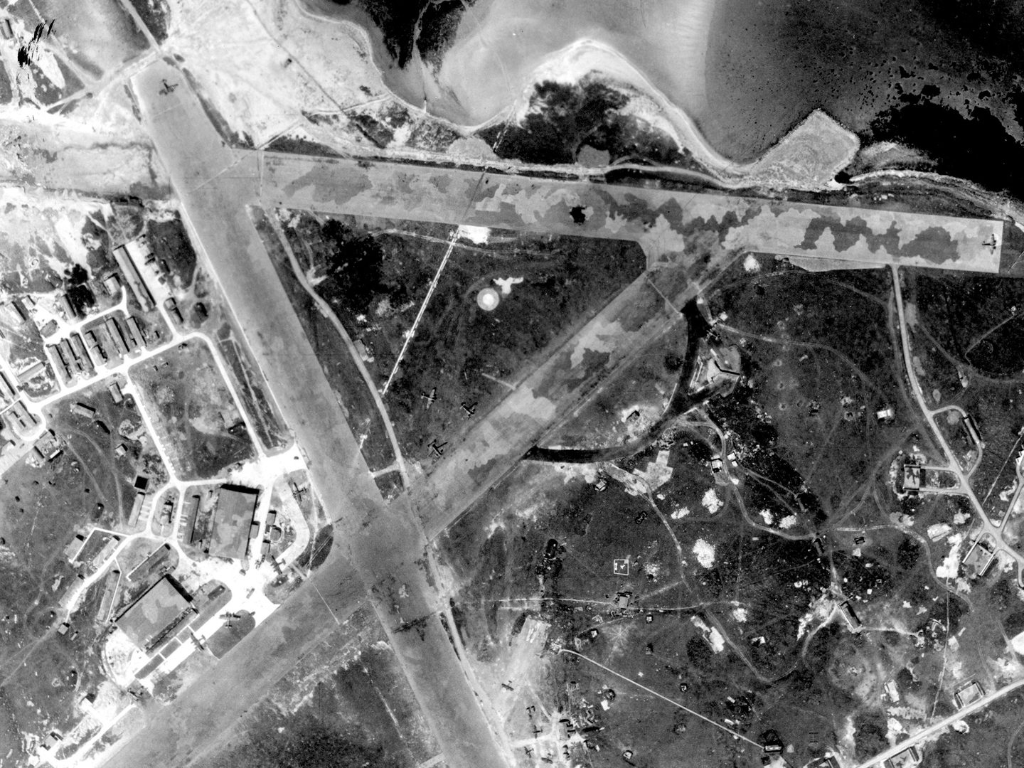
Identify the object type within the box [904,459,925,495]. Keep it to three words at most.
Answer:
hangar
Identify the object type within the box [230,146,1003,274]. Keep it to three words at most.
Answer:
runway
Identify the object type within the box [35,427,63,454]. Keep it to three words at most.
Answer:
building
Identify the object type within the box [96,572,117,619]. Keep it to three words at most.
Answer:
shed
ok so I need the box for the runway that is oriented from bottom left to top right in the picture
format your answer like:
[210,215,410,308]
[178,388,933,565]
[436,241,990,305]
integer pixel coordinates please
[100,254,739,768]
